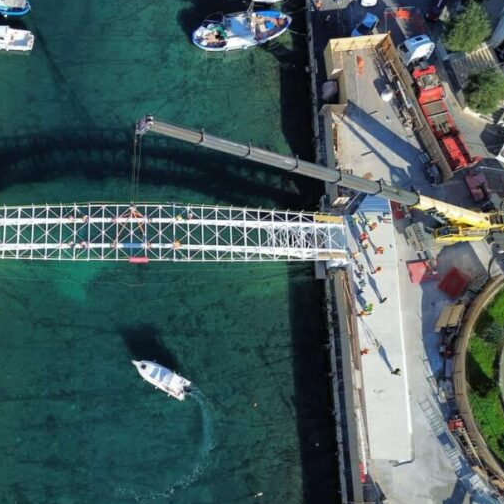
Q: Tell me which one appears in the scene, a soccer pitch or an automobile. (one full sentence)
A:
There is an automobile in the scene.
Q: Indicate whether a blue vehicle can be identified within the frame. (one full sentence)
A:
Yes, the photo shows a blue vehicle.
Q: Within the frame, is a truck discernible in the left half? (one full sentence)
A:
No, no truck can be made out in the left half.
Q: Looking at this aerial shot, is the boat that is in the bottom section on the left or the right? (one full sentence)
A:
The boat that is in the bottom section is on the left side of the image.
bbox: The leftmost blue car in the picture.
[349,12,379,39]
